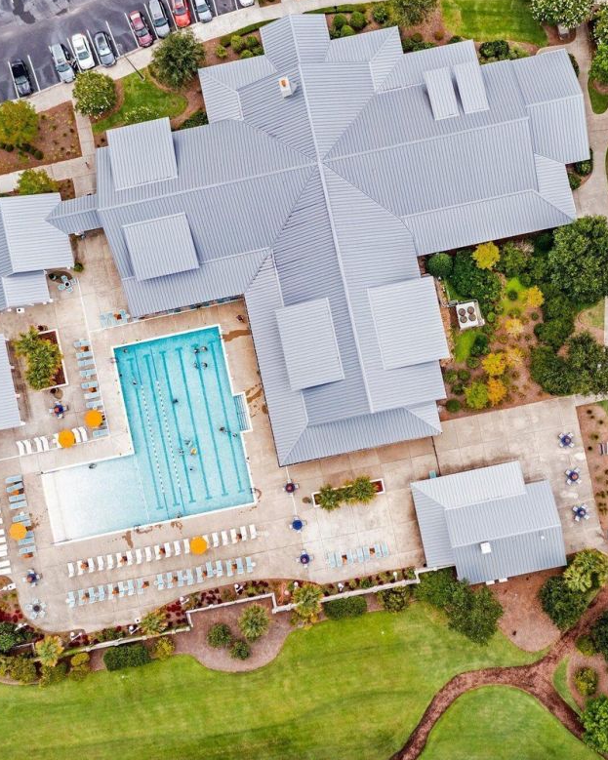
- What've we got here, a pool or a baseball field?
pool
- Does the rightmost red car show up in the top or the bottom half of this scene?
top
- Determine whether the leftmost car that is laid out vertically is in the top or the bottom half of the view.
top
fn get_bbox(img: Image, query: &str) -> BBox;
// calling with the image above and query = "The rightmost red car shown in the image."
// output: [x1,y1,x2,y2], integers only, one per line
[171,0,192,30]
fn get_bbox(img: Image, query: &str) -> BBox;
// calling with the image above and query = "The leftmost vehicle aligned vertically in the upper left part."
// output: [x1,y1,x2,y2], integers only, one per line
[13,58,34,98]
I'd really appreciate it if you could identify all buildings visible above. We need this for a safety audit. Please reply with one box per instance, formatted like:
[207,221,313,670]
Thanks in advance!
[410,461,566,583]
[0,334,23,428]
[0,192,102,310]
[96,14,590,467]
